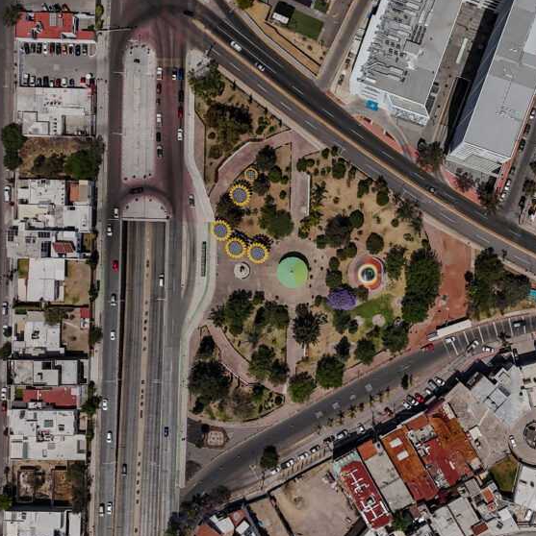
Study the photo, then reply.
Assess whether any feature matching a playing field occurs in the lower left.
No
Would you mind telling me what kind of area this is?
residential area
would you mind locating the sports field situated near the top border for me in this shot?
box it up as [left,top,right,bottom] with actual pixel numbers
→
[287,11,324,41]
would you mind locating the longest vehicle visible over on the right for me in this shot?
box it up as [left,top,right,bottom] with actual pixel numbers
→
[433,319,468,338]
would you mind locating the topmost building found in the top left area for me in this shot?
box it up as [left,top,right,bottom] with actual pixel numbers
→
[15,12,100,45]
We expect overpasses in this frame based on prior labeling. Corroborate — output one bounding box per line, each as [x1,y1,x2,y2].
[120,194,171,219]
